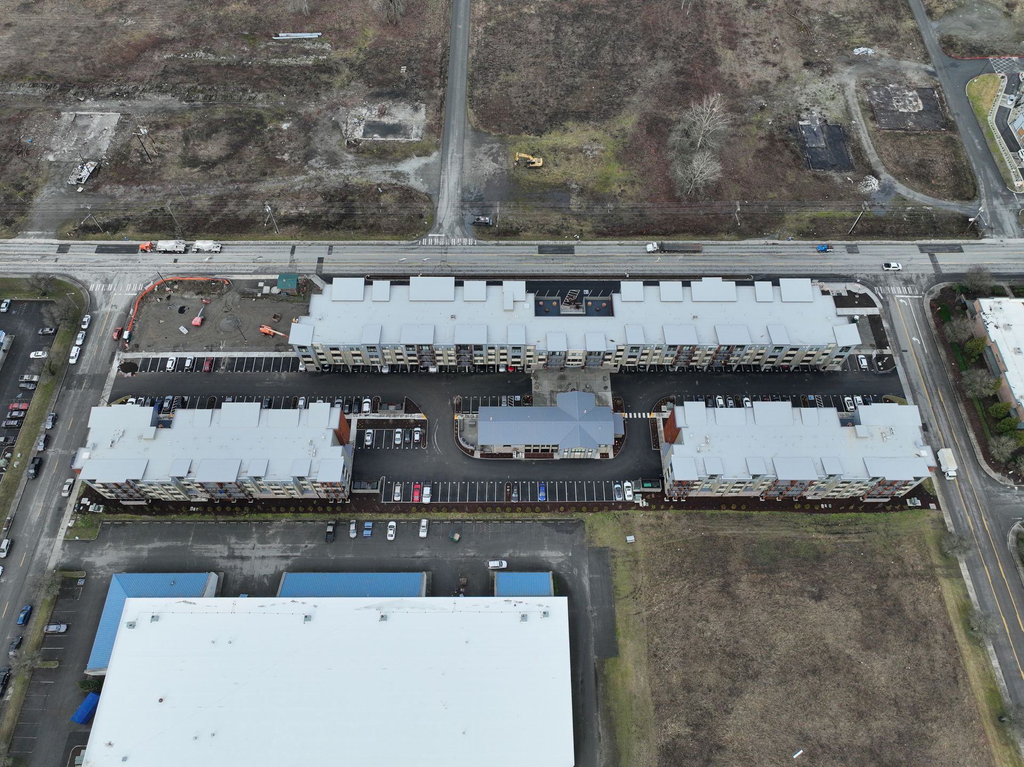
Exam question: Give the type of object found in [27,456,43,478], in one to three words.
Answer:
vehicle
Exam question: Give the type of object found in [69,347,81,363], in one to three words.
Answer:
vehicle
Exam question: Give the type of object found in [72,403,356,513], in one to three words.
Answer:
building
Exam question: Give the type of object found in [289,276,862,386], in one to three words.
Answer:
building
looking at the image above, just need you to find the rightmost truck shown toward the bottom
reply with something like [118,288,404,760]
[940,447,961,479]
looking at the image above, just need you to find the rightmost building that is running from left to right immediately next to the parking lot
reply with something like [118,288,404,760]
[660,401,937,511]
